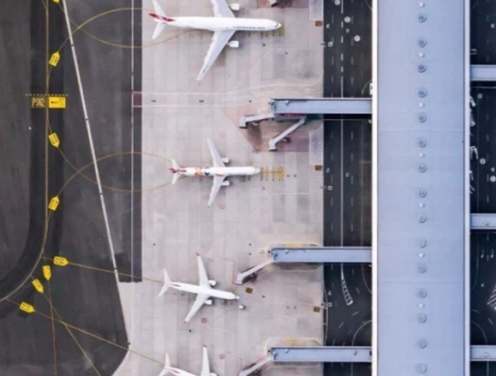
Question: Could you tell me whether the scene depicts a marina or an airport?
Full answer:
It's an airport.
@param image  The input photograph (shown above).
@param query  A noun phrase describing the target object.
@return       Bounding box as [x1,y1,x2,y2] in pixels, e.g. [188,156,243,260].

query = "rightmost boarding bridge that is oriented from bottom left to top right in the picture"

[269,119,309,152]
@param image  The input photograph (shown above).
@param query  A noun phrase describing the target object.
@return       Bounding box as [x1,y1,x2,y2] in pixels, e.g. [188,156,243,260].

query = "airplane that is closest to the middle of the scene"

[170,135,260,207]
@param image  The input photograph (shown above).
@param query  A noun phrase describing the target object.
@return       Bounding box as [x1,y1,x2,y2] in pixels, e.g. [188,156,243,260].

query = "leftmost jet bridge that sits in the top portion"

[240,115,276,131]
